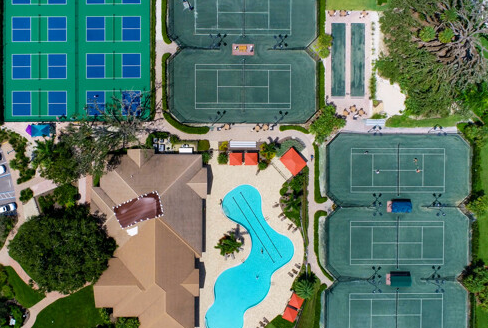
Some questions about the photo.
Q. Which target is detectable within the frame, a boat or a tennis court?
tennis court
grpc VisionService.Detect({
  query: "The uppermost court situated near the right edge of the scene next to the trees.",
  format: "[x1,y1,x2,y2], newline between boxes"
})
[328,133,471,207]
